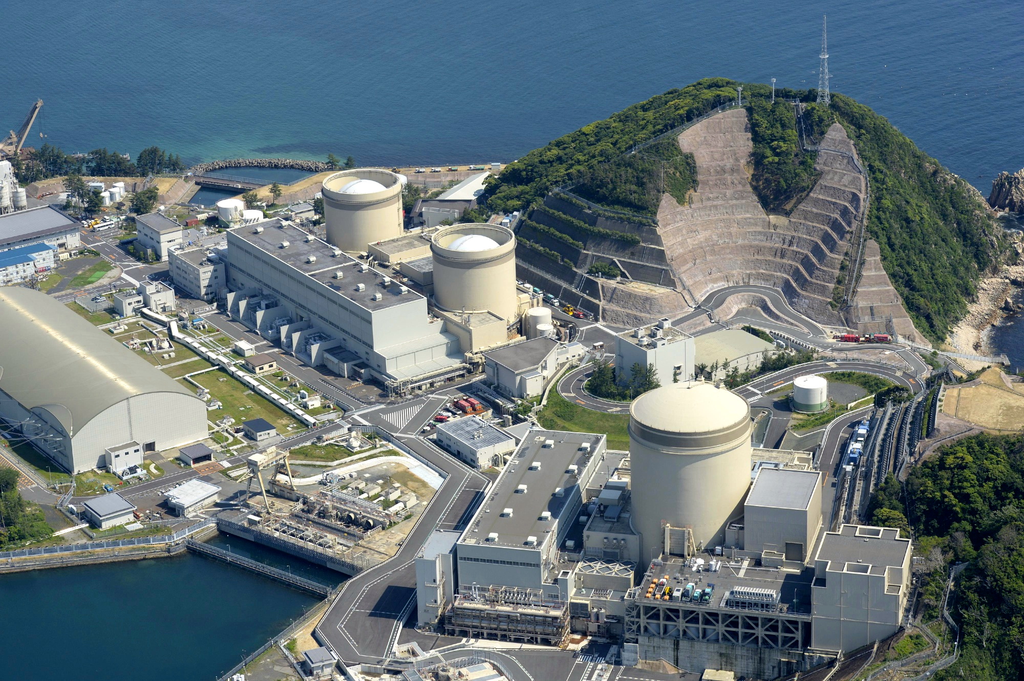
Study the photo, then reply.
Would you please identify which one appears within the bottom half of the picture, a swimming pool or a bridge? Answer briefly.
bridge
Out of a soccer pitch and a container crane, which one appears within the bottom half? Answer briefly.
container crane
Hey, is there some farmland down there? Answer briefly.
No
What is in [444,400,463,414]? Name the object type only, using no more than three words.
vehicle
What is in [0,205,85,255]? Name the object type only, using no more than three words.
building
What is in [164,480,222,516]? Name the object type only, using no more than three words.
house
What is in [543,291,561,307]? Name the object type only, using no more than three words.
vehicle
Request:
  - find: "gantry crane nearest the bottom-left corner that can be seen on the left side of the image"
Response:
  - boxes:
[235,442,298,514]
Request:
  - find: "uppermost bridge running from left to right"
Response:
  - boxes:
[175,170,261,198]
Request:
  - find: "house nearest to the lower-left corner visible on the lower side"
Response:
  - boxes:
[81,493,137,529]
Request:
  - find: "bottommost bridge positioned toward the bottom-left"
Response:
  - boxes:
[190,540,334,601]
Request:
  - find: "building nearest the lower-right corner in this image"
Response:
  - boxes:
[811,524,911,660]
